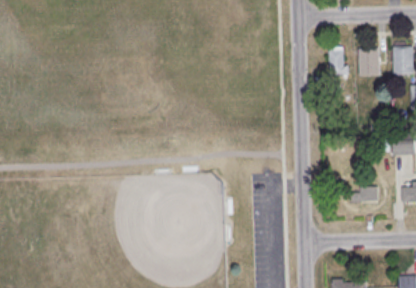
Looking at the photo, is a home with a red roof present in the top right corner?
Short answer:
No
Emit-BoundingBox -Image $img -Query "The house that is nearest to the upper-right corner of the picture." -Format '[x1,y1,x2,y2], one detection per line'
[393,47,414,76]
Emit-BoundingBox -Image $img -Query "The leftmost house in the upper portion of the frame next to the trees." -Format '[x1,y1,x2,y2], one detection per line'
[328,46,350,78]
